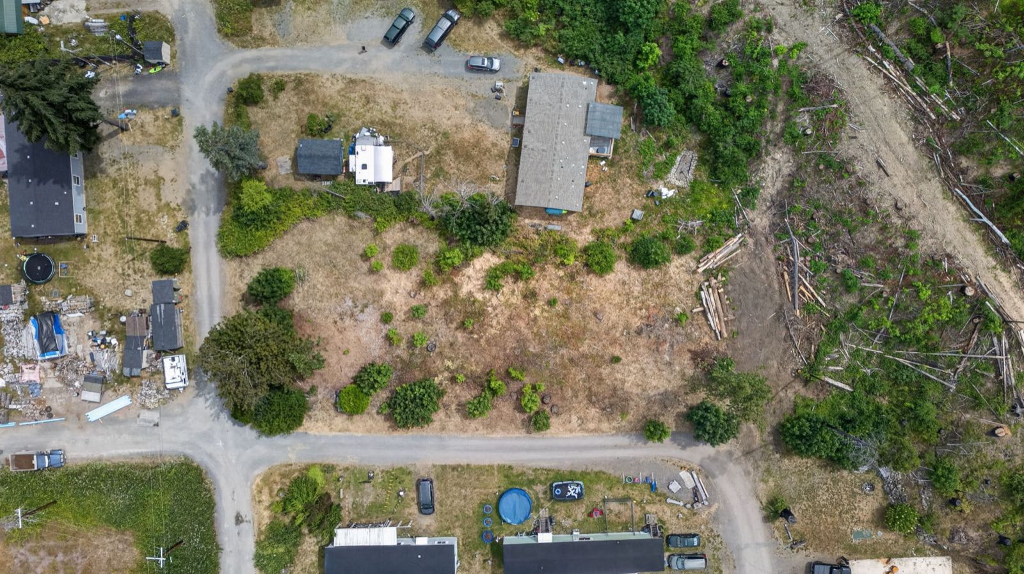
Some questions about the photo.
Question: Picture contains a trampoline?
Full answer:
Yes, a trampoline can be made out from above.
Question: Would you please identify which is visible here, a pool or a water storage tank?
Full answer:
It is a pool that can be seen here.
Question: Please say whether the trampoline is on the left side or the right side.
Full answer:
The trampoline appears in the left half of the scene.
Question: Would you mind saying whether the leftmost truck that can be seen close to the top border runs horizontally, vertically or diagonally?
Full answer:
In this picture, the leftmost truck that can be seen close to the top border is oriented diagonally.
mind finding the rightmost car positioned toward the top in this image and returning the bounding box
[467,54,502,72]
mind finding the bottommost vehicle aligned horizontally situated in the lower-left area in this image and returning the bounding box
[2,451,63,473]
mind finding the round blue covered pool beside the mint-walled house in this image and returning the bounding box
[498,490,533,526]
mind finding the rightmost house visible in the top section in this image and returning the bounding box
[516,72,597,212]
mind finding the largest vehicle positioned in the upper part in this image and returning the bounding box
[349,135,395,187]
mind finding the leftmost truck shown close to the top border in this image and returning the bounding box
[382,7,414,46]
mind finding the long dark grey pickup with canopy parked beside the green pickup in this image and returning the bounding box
[423,7,459,50]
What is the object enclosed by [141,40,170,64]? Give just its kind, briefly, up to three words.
shed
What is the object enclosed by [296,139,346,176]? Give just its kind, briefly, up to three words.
shed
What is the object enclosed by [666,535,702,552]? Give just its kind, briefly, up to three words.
car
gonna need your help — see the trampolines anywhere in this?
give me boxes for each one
[19,253,53,284]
